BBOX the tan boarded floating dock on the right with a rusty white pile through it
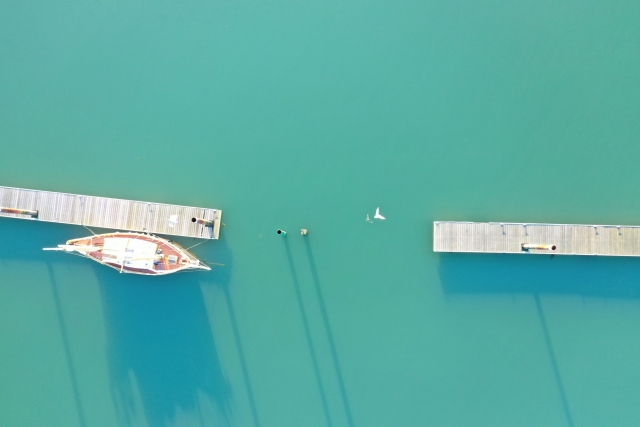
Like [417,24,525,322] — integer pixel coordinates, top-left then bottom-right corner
[433,221,640,256]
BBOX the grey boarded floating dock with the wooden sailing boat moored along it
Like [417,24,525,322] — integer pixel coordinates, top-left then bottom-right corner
[0,187,222,239]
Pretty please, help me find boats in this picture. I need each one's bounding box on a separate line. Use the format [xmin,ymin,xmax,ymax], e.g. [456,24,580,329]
[42,232,209,276]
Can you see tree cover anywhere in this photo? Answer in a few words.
No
